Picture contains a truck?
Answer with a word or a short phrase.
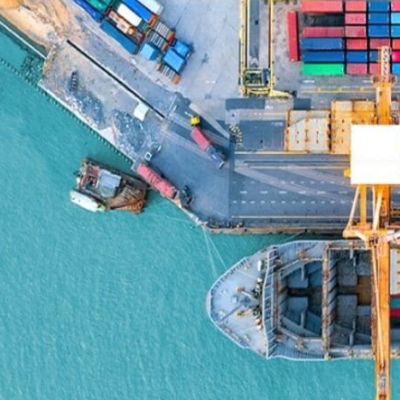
Yes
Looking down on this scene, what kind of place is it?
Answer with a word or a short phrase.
port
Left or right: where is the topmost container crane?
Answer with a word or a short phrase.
right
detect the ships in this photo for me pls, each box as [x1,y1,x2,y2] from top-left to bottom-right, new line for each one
[205,238,372,362]
[72,156,149,215]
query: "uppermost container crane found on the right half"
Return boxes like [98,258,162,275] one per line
[241,0,299,94]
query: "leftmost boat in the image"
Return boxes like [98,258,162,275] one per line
[68,189,104,210]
